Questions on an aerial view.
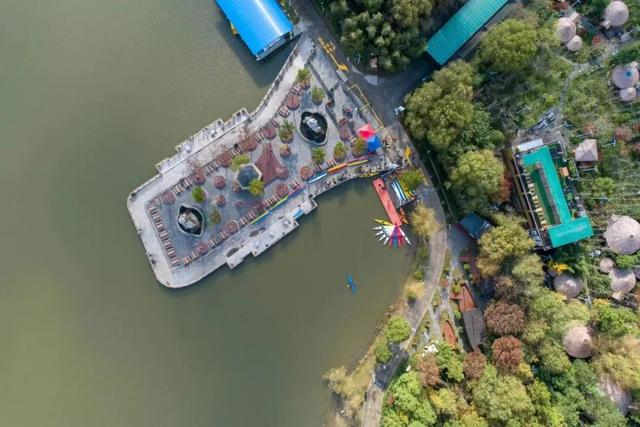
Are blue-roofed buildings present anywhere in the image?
Yes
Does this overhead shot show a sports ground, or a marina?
marina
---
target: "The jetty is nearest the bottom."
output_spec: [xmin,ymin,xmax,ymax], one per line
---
[371,177,402,226]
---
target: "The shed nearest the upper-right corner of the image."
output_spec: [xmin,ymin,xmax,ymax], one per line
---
[592,2,626,34]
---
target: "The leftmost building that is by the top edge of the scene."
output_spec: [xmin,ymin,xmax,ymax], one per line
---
[216,0,299,69]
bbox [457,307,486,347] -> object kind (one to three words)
house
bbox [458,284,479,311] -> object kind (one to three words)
house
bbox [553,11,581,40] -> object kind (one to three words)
shed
